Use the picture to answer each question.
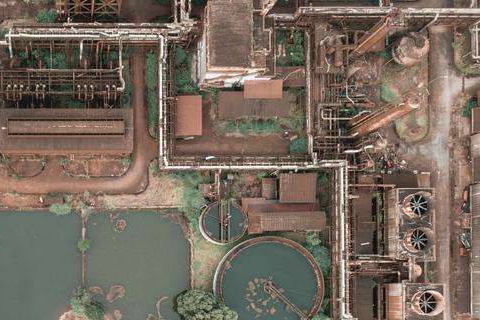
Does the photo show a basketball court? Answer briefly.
No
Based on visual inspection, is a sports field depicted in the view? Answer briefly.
No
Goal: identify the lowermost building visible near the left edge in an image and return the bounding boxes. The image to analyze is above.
[0,107,134,158]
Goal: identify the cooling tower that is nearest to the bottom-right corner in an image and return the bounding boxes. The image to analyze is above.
[400,283,450,320]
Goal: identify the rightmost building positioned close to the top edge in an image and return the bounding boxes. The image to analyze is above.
[194,0,267,94]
